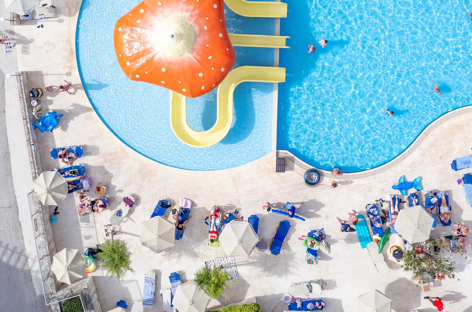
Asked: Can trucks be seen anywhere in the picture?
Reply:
No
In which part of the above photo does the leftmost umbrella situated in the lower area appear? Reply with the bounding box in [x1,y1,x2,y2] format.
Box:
[31,169,69,207]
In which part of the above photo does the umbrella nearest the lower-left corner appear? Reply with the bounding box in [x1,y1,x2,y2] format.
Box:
[52,247,88,283]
